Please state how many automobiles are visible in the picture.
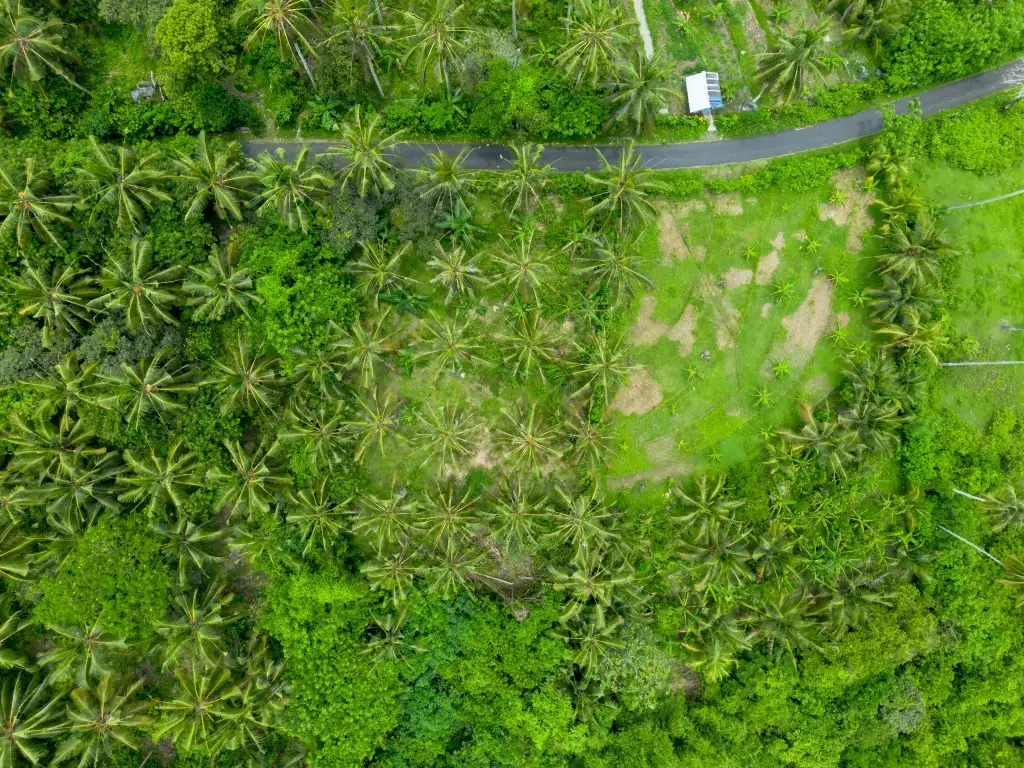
0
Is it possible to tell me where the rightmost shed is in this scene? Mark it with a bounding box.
[688,67,726,112]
